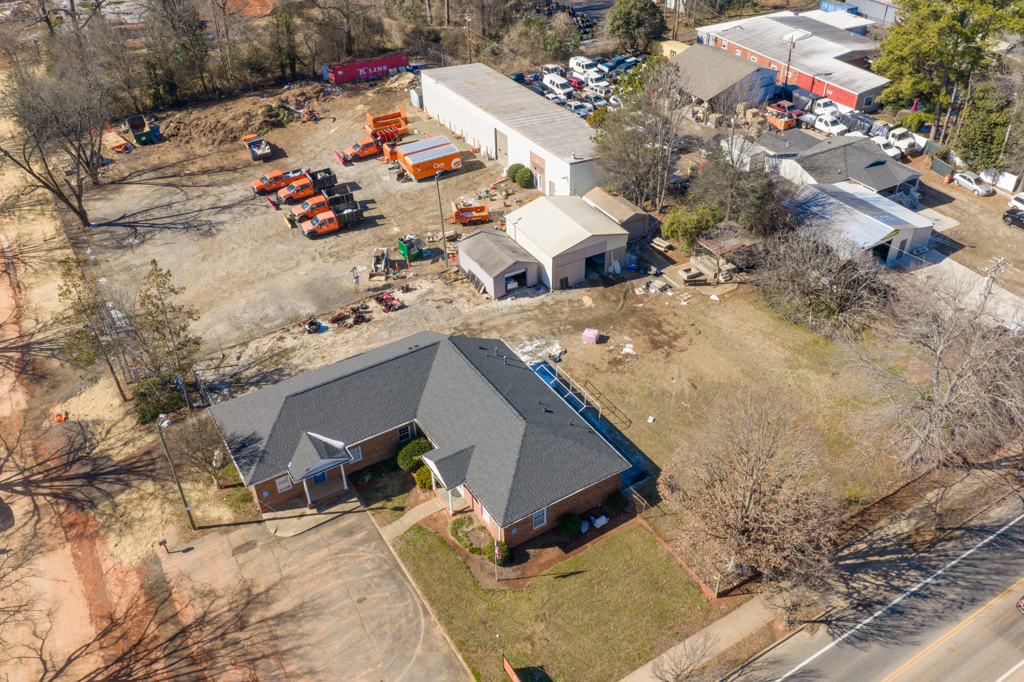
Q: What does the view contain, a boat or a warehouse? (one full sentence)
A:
The image shows a warehouse.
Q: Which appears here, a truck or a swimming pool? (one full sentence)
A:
Looking from above, you can make out a truck.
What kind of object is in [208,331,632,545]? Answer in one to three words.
building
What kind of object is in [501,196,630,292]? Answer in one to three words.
barn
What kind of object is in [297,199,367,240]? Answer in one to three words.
truck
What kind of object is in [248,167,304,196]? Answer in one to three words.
truck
